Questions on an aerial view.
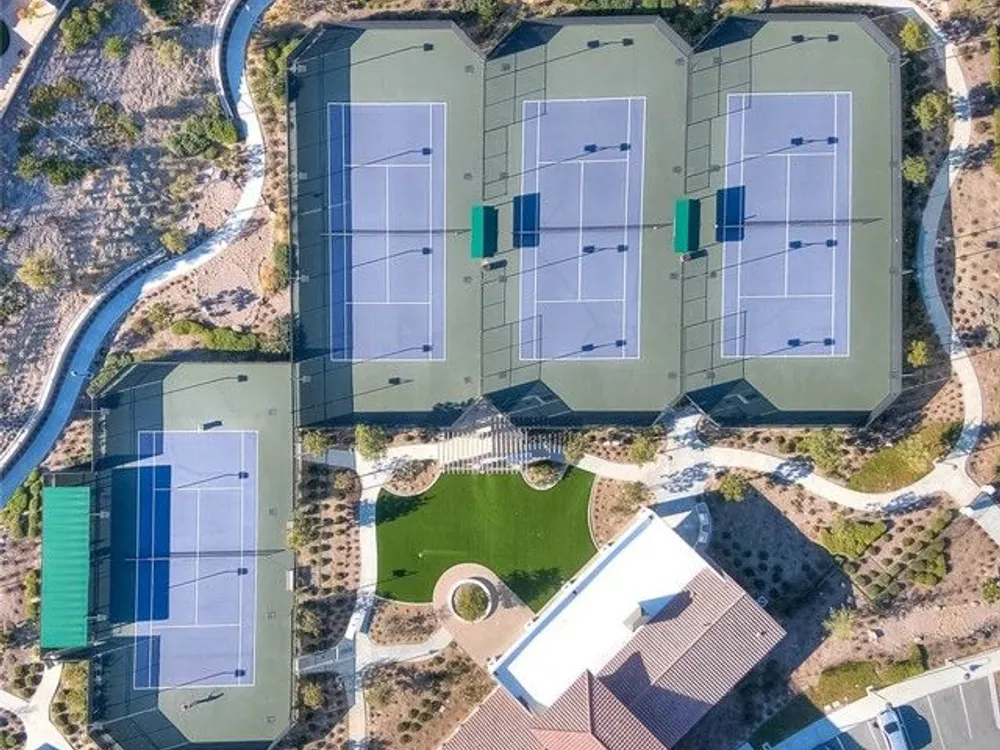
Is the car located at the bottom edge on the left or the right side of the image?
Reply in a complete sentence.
The car located at the bottom edge sits on the right side.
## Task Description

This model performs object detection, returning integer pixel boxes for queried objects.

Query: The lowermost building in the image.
[429,509,786,750]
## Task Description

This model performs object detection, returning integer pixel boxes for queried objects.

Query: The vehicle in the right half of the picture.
[875,708,906,750]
